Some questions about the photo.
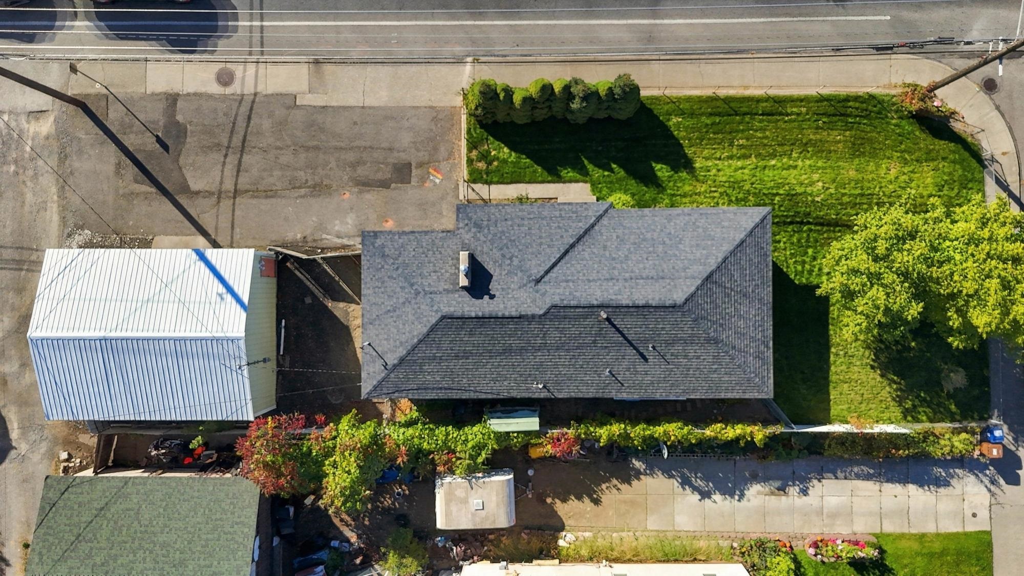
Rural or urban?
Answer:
urban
